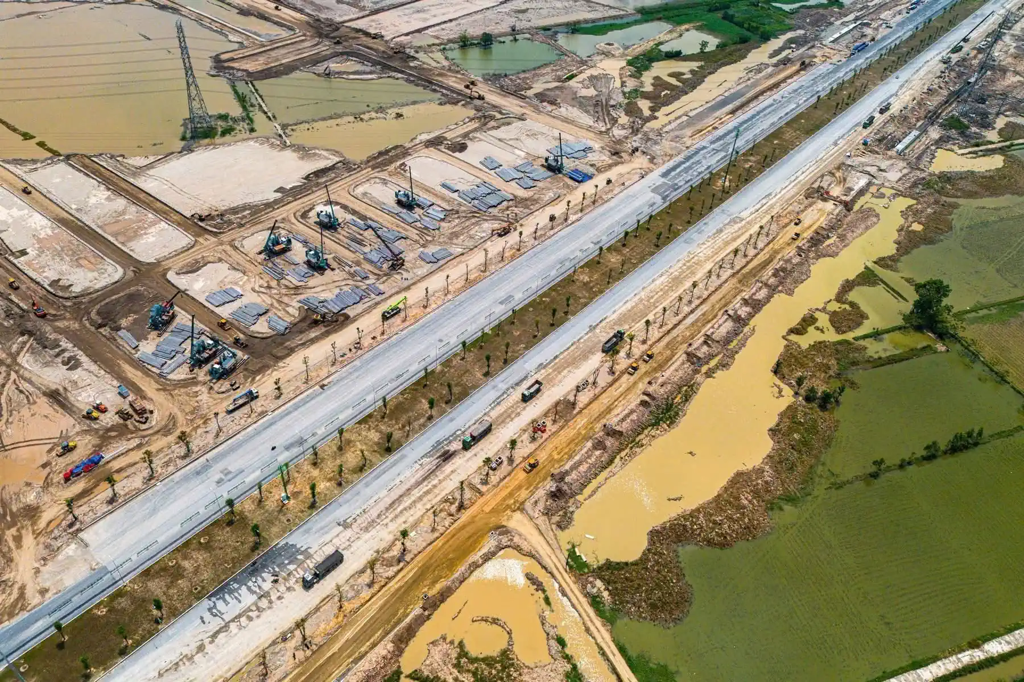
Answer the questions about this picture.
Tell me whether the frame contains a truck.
Yes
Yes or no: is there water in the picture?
Yes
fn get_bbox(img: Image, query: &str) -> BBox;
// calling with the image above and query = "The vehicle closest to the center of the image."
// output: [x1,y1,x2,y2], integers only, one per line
[520,373,547,400]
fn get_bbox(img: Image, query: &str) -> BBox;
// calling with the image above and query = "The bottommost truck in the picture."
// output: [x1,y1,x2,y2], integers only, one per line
[300,542,344,585]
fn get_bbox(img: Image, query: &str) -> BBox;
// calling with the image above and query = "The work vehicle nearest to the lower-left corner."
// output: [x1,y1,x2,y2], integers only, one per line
[55,438,77,454]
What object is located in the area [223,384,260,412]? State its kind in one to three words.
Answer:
truck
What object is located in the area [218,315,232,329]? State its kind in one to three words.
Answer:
work vehicle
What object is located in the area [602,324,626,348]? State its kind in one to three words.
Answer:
truck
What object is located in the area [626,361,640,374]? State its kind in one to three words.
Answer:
vehicle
